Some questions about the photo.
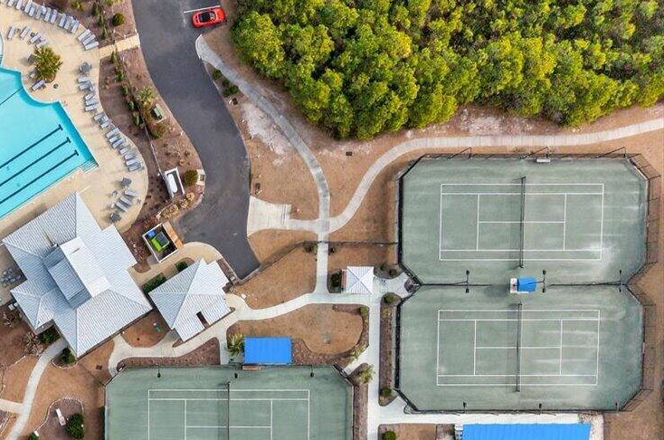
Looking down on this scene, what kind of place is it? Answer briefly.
sports ground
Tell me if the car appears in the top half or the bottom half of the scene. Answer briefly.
top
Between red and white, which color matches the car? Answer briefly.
red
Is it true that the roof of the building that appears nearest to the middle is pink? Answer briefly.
No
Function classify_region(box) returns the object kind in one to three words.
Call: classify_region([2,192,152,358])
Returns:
building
